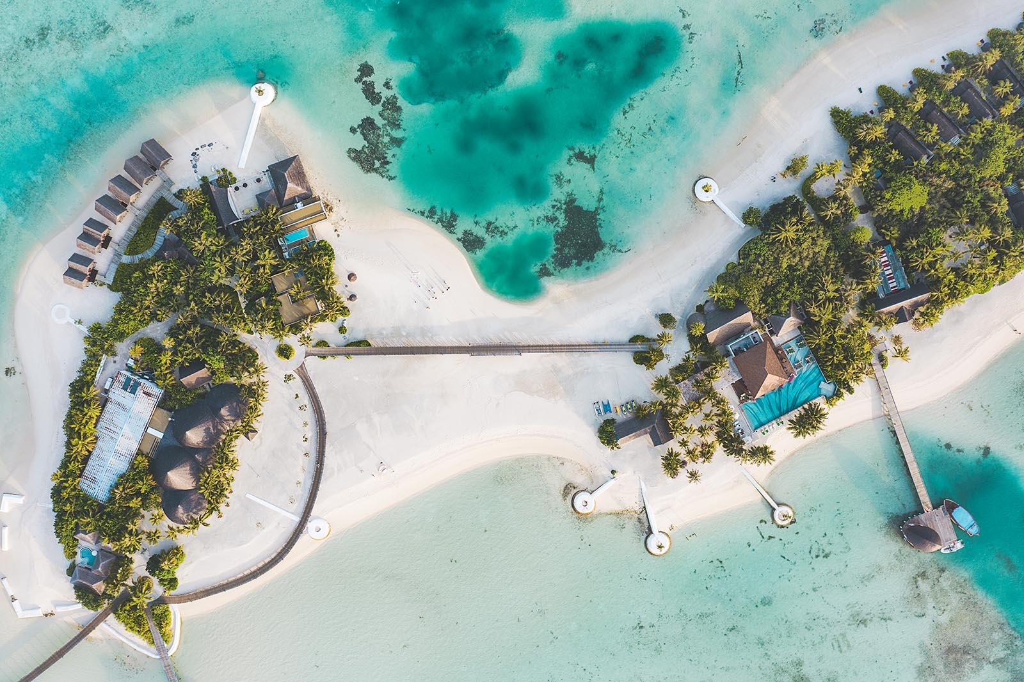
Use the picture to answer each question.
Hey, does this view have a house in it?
Yes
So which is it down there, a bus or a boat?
boat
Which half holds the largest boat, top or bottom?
bottom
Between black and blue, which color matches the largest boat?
blue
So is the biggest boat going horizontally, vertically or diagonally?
diagonally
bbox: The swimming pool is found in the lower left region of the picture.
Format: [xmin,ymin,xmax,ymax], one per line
[79,545,97,567]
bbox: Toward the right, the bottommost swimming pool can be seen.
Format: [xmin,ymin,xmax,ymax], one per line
[739,335,827,430]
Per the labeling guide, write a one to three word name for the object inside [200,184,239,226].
house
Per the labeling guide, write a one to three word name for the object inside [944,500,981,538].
boat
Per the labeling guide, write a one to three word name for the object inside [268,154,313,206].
building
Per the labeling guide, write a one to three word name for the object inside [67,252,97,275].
shed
